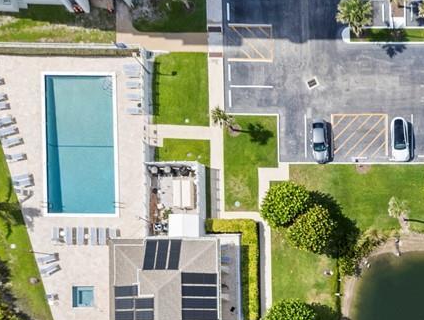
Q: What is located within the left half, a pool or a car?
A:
pool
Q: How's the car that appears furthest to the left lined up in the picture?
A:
vertically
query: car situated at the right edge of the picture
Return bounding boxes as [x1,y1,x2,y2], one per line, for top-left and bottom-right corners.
[390,118,411,162]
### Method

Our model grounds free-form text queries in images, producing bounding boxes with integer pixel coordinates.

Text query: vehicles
[390,118,411,162]
[310,120,330,164]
